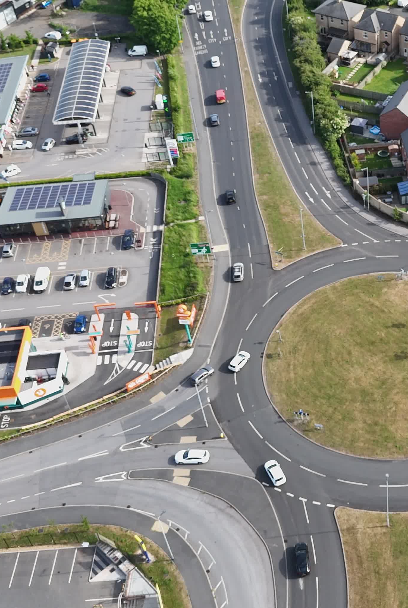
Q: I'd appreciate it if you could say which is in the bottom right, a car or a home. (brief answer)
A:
car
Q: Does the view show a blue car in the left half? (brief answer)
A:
Yes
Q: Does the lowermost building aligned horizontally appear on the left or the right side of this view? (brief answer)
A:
left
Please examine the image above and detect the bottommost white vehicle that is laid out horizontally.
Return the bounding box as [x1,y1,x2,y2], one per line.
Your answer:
[174,448,211,465]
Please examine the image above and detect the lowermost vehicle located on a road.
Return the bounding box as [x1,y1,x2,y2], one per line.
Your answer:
[293,542,313,579]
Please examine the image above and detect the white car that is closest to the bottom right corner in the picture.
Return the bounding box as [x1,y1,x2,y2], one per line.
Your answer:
[263,460,288,486]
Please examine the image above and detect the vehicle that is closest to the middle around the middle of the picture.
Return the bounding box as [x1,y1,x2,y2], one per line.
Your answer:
[231,262,245,283]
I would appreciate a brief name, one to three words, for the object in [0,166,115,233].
building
